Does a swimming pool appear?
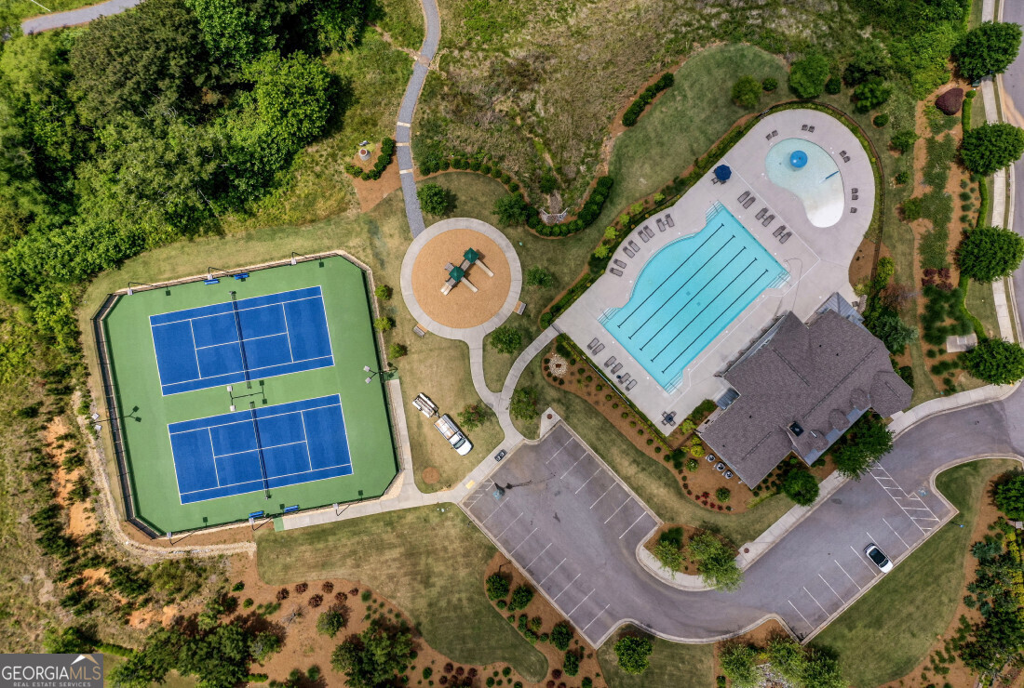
Yes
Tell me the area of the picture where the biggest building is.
right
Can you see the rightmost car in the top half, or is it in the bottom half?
bottom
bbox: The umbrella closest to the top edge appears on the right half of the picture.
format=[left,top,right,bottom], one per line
[714,165,731,181]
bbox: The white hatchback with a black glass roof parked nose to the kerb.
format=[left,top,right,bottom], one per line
[862,542,892,572]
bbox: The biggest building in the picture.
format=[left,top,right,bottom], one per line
[693,292,913,489]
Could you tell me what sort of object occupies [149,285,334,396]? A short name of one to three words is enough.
tennis court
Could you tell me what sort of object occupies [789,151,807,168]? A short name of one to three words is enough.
fountain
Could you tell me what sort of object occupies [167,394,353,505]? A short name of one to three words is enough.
tennis court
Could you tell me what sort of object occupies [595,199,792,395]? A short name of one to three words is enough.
swimming pool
